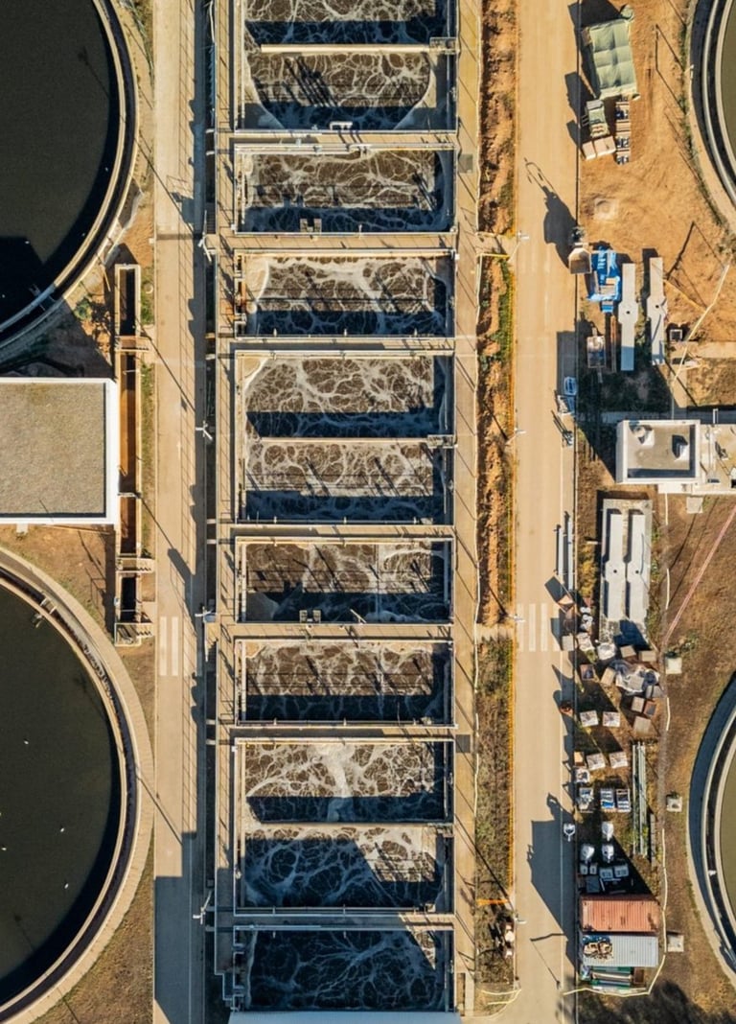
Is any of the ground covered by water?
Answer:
Yes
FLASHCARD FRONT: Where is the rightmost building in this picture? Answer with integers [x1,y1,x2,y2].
[617,420,701,493]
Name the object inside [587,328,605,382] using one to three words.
trailer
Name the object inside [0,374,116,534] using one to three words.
building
